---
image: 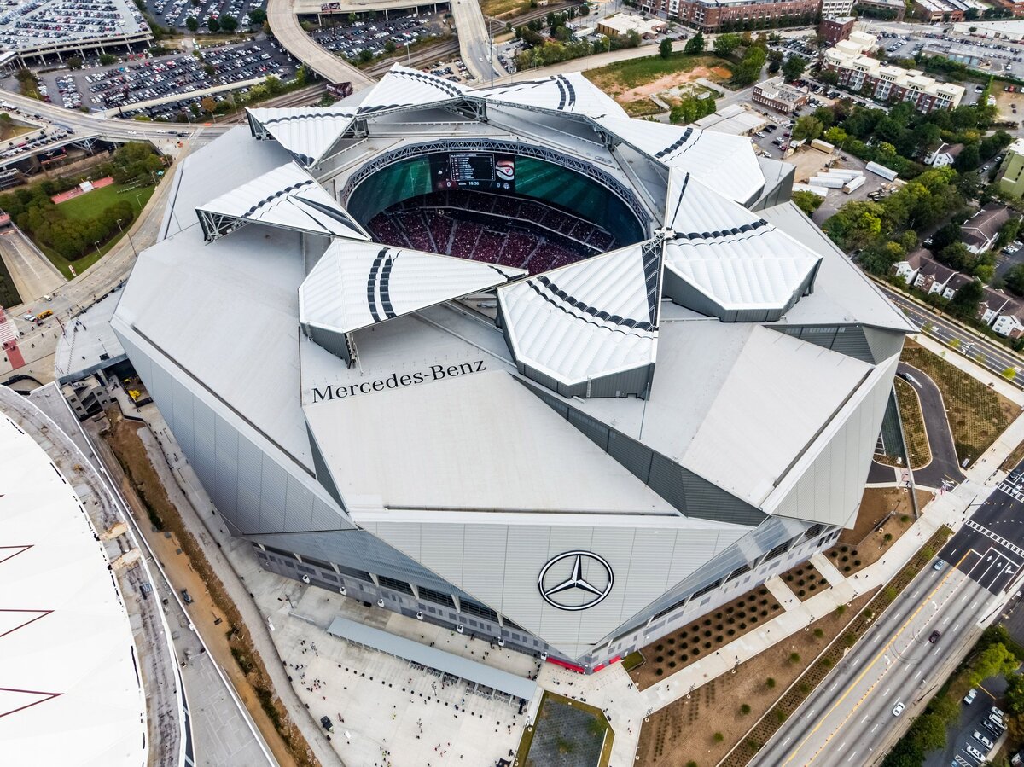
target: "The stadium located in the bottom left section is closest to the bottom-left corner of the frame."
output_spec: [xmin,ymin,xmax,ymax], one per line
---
[0,380,283,767]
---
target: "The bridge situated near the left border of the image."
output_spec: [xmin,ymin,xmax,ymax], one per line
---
[0,120,99,171]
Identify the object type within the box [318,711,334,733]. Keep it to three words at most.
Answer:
vehicle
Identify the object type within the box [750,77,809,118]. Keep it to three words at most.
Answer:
building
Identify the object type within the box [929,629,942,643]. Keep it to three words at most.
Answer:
vehicle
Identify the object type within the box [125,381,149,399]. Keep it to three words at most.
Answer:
work vehicle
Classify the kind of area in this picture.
sports ground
